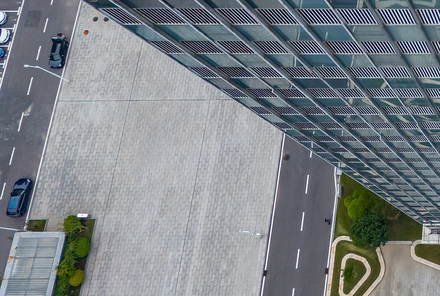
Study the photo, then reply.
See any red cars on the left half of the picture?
No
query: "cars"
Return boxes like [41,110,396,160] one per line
[6,179,34,219]
[47,29,71,71]
[0,28,13,43]
[0,12,10,25]
[0,47,8,61]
